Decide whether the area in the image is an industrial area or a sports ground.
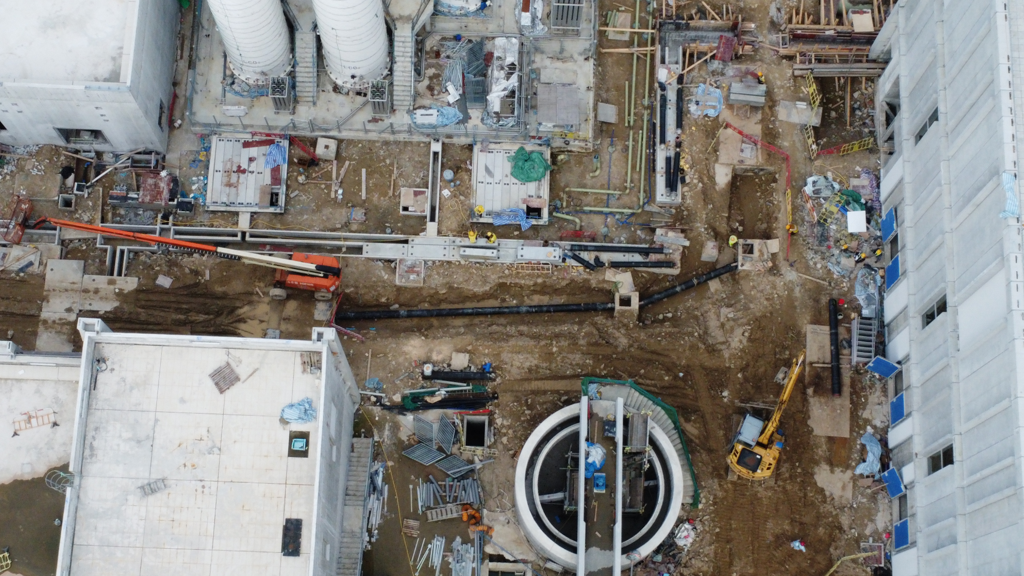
industrial area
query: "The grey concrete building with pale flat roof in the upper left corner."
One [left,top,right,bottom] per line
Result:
[0,0,181,154]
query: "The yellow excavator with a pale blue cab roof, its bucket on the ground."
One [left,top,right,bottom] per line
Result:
[727,345,807,481]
